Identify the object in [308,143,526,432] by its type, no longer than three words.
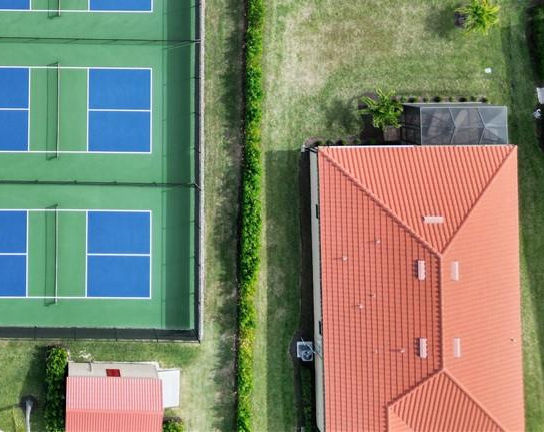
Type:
house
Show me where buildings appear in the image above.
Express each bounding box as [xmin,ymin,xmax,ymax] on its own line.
[308,143,526,432]
[66,363,164,431]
